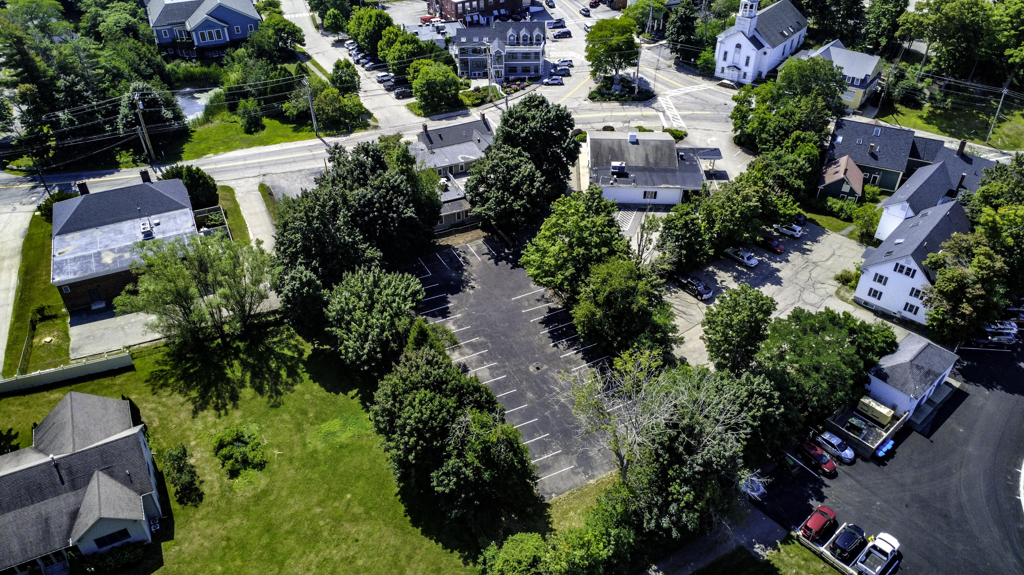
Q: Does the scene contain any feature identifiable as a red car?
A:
Yes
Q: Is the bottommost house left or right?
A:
left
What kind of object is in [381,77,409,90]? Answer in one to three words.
vehicle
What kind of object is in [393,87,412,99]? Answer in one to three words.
vehicle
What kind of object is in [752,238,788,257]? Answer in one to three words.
car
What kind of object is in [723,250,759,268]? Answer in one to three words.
car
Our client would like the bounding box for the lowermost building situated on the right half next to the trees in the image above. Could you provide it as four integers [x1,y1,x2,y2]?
[865,332,962,418]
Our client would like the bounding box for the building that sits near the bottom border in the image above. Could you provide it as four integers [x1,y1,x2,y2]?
[0,395,161,575]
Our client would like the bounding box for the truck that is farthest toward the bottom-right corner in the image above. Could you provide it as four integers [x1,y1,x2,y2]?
[854,533,899,575]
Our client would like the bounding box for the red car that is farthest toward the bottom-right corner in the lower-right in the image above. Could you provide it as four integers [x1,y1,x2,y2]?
[801,507,836,543]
